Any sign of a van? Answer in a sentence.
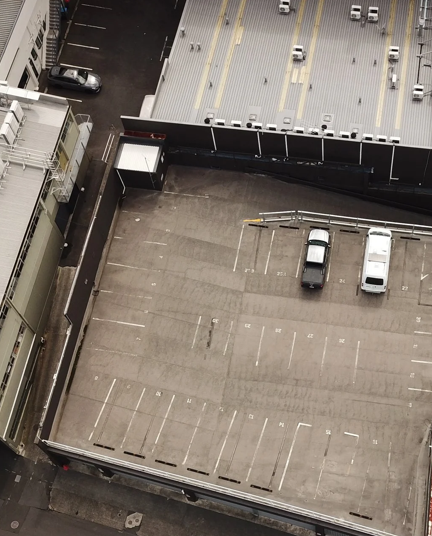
Yes, there is a van in the image.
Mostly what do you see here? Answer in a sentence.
What you mostly see from above here is paved ground.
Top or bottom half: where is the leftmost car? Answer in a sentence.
Seen from above, the leftmost car lies in the top half of the view.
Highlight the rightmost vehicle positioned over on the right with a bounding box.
[362,228,395,295]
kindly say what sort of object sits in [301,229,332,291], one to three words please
truck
